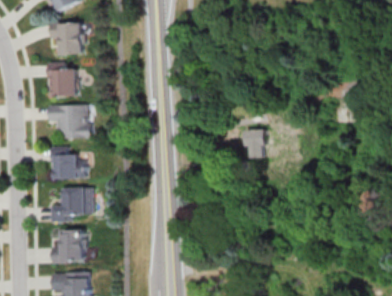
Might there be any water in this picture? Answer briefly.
No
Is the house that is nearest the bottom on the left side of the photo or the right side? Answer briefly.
left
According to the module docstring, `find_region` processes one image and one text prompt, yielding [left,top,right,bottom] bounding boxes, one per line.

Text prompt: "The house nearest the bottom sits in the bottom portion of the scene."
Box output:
[52,272,91,296]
